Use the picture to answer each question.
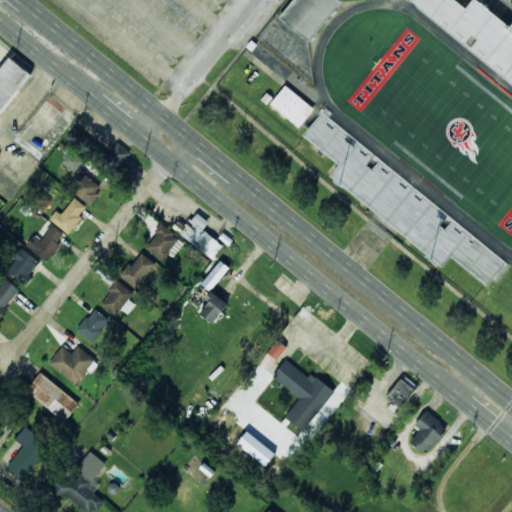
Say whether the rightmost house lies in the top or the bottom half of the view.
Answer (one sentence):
It is in the bottom half that the rightmost house appears.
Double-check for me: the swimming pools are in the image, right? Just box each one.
[109,466,130,486]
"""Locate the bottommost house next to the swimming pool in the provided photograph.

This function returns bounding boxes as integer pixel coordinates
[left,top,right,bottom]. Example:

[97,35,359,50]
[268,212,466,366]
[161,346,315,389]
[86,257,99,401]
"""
[54,452,108,512]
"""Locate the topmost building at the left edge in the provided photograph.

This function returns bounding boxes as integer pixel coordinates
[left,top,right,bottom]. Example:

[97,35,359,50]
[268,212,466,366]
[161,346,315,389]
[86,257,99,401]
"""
[0,58,30,113]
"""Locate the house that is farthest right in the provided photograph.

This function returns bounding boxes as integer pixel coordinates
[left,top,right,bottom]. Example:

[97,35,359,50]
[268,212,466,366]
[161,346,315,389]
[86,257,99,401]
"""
[411,410,448,454]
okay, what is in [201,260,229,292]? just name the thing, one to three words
barn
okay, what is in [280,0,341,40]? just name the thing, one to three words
building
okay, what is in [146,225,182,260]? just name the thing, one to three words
house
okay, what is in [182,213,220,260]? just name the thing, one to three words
building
